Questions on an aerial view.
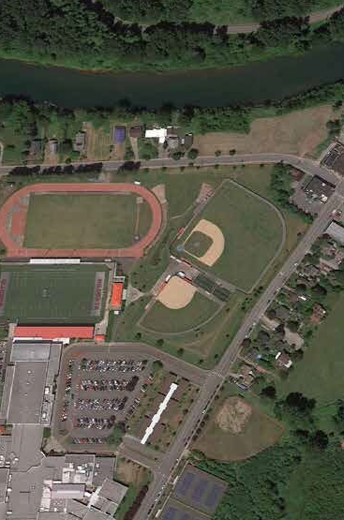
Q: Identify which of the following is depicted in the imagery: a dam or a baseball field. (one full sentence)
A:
There is a baseball field in the scene.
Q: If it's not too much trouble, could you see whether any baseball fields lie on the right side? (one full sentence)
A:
Yes, the scene does show a baseball field on the right side.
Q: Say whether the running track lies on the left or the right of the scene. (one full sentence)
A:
The running track appears in the left half of the scene.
